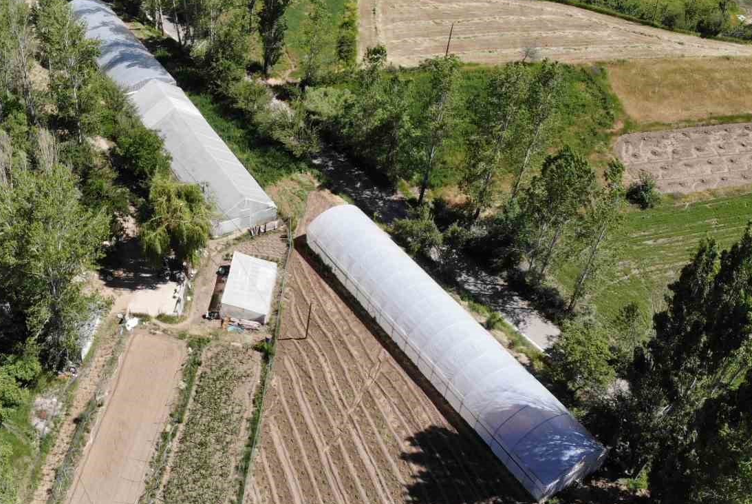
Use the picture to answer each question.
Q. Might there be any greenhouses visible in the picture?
Yes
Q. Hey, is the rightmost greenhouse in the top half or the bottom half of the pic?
bottom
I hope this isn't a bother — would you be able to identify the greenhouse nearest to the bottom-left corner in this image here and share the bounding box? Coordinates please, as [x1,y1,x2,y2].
[218,253,280,324]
